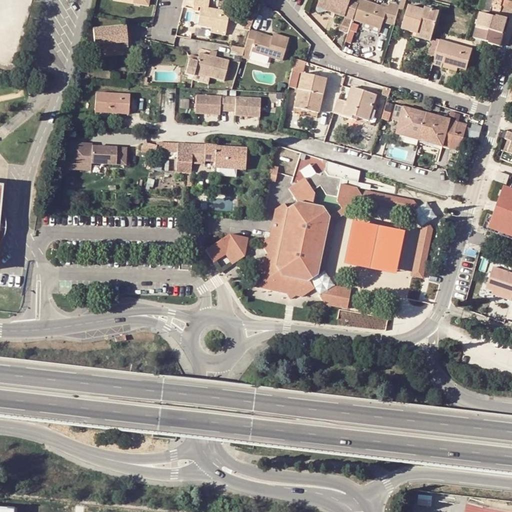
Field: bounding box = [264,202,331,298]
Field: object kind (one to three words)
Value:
building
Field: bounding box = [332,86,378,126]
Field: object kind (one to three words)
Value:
house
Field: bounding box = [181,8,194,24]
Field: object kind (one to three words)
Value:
swimming pool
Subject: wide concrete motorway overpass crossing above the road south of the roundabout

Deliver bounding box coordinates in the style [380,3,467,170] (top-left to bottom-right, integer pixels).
[0,358,512,476]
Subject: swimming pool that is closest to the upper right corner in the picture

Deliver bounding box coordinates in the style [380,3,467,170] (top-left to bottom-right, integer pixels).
[384,144,418,164]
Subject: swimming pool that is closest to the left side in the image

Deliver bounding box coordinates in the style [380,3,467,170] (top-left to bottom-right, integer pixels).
[149,66,181,82]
